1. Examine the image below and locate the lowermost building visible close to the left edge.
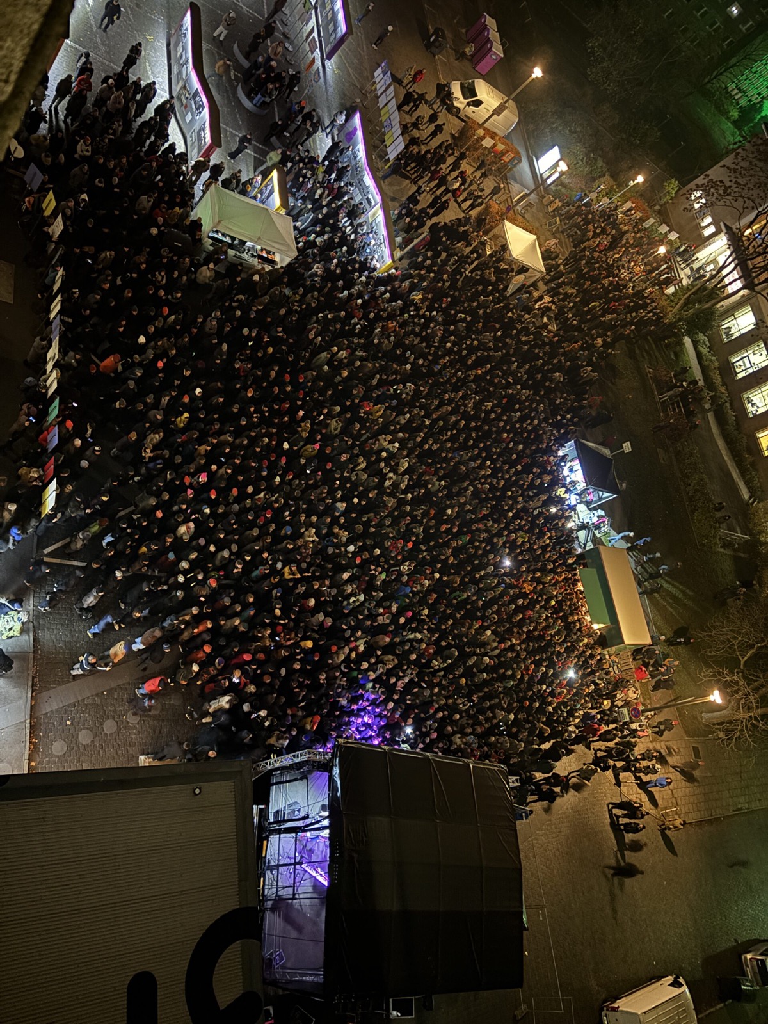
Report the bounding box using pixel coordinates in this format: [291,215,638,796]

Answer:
[0,762,262,1024]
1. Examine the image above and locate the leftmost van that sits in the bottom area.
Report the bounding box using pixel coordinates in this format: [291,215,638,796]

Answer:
[610,978,698,1024]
